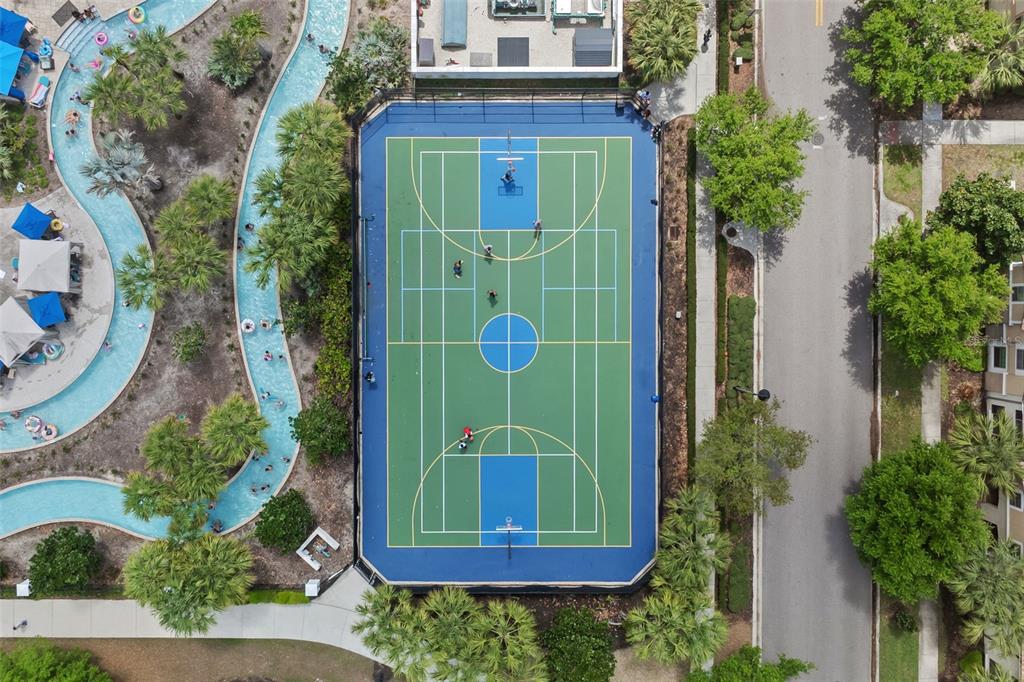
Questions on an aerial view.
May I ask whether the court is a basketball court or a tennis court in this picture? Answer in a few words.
basketball court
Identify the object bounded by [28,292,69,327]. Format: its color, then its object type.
blue umbrella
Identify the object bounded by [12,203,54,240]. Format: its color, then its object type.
blue umbrella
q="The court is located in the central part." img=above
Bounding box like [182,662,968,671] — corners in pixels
[360,100,658,583]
